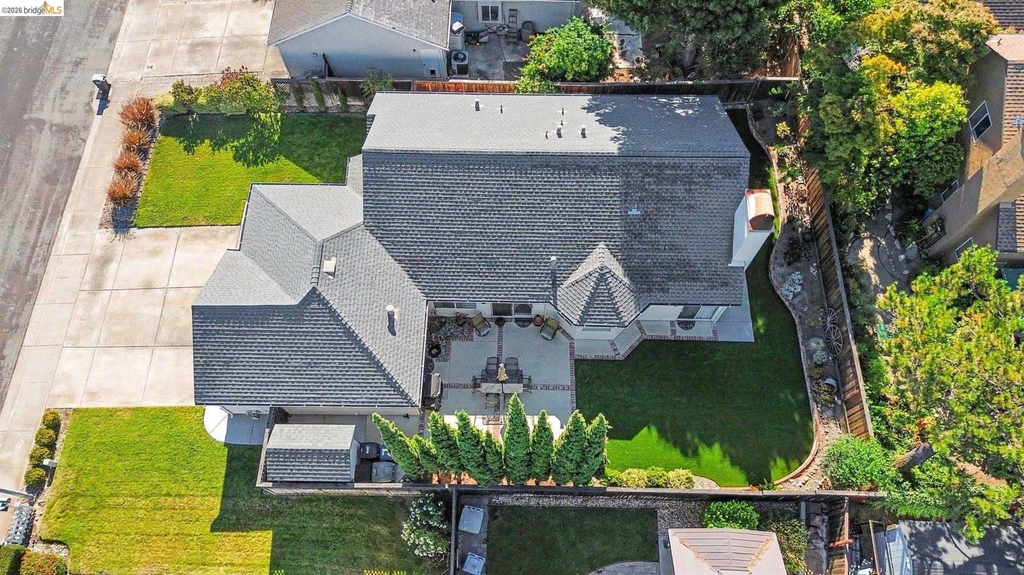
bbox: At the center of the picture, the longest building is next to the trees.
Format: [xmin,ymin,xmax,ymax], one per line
[187,91,773,413]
